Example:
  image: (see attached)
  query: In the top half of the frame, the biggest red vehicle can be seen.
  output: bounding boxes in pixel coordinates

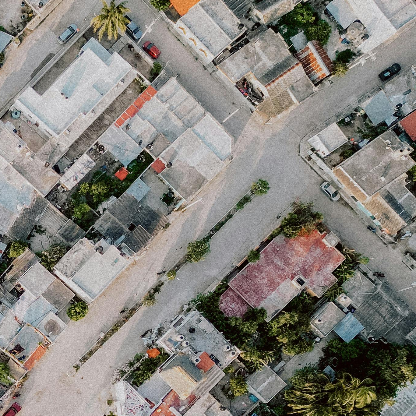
[141,40,162,61]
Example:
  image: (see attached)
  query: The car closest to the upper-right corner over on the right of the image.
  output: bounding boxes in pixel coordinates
[375,61,402,84]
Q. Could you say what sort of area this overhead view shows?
residential area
